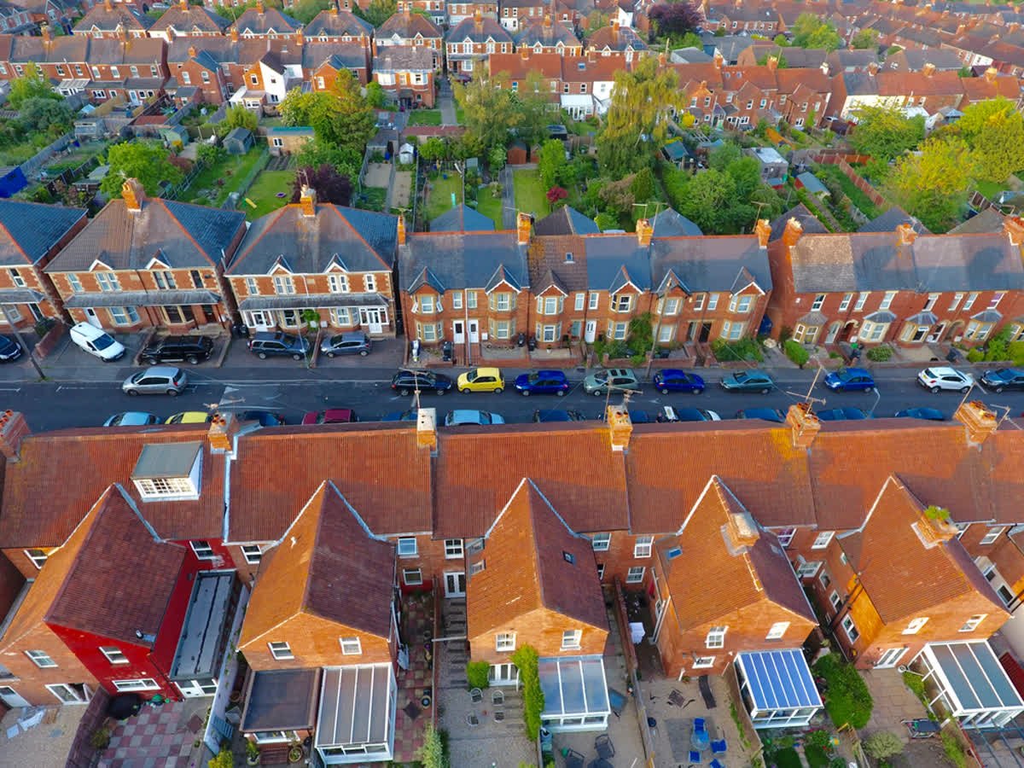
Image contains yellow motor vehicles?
Yes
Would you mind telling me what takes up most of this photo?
buildings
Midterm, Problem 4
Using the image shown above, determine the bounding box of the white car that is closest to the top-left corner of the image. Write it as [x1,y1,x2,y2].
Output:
[64,317,120,359]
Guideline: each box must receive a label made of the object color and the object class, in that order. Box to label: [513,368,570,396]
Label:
blue car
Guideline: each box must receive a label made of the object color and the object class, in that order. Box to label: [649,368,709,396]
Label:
blue car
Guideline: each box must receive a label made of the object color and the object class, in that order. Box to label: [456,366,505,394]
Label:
yellow car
